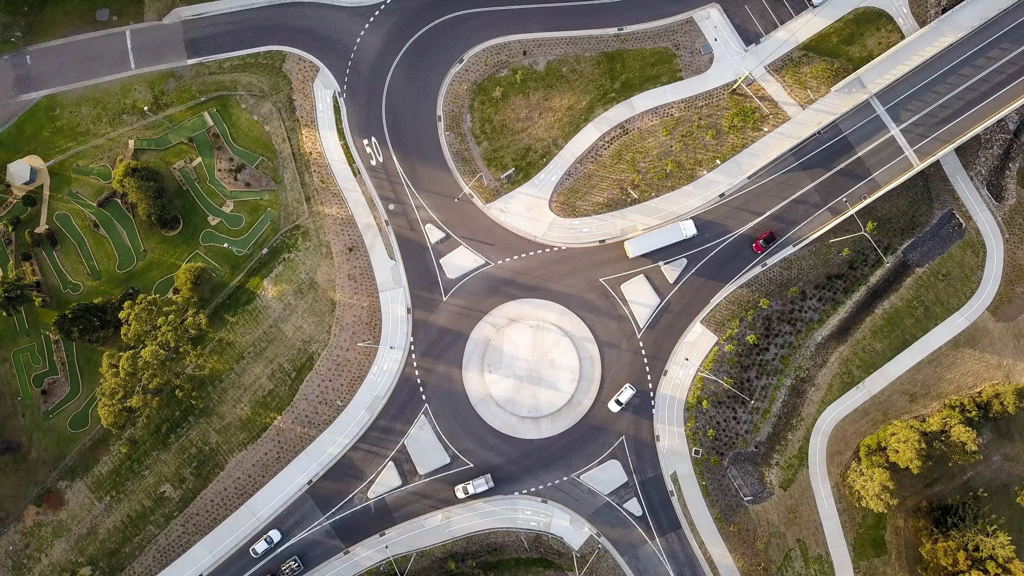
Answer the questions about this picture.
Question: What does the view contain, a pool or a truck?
truck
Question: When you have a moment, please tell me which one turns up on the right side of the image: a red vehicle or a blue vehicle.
red vehicle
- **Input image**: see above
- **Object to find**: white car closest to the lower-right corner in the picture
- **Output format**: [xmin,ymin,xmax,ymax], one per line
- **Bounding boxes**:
[607,381,638,413]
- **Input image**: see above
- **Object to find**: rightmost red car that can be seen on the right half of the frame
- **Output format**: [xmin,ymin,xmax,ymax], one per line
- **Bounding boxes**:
[751,228,779,254]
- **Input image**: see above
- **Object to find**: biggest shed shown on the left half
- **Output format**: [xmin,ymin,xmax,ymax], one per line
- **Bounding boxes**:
[6,159,43,187]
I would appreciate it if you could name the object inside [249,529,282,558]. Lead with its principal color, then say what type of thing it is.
white car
